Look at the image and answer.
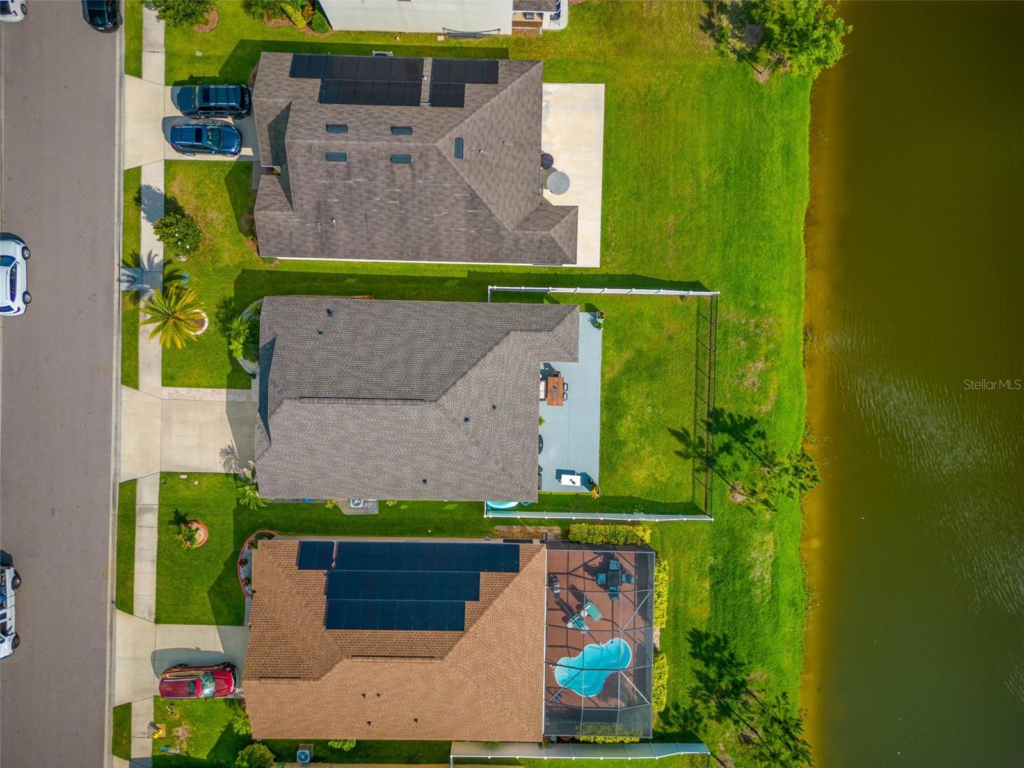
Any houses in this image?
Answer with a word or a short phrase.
Yes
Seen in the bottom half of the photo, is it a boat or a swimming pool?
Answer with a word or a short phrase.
swimming pool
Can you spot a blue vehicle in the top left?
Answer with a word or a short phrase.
Yes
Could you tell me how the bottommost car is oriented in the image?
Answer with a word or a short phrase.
from left to right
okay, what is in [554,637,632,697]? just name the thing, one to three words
swimming pool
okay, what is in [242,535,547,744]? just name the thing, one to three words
house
